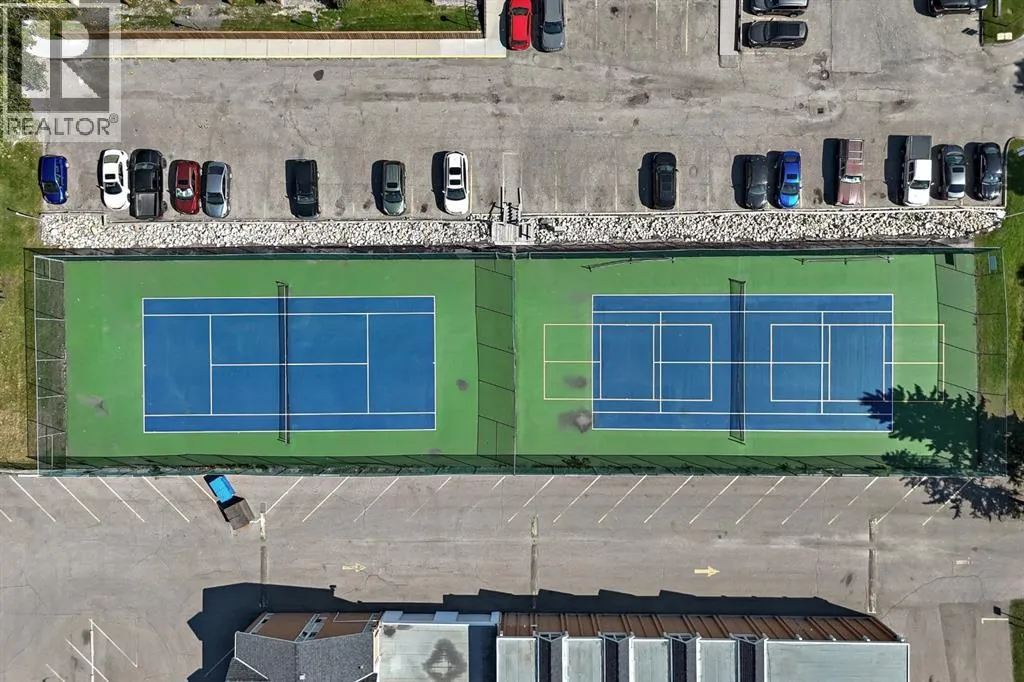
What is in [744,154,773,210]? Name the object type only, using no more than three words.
car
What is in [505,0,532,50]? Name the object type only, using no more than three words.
car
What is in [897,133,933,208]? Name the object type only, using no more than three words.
truck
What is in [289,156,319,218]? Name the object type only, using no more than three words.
van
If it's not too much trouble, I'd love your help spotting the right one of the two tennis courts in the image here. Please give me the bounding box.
[514,254,976,467]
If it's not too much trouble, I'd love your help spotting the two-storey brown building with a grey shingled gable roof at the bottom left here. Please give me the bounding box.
[232,611,384,682]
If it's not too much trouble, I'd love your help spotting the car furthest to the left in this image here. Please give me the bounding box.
[39,154,70,205]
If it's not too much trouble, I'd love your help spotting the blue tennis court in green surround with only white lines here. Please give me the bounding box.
[65,257,514,467]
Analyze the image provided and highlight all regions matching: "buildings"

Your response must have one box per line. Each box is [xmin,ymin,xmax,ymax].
[496,610,910,682]
[232,611,384,682]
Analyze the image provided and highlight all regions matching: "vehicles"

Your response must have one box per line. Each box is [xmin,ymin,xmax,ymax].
[749,16,809,48]
[536,0,564,50]
[505,0,532,50]
[897,133,933,208]
[203,160,232,218]
[172,159,203,215]
[928,0,989,16]
[937,144,969,204]
[131,149,167,219]
[101,149,133,211]
[775,150,804,209]
[749,0,810,17]
[39,154,70,205]
[744,154,773,210]
[651,151,680,210]
[378,159,405,215]
[835,135,868,207]
[440,151,469,216]
[972,141,1006,202]
[289,156,319,218]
